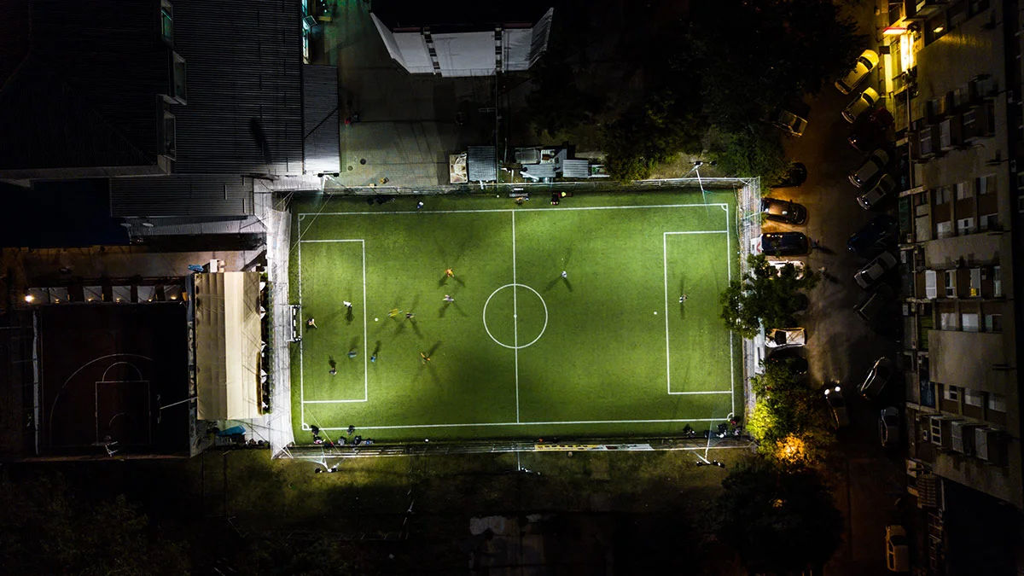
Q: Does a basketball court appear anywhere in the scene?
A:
Yes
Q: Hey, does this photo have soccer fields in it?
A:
Yes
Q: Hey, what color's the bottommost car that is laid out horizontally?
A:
black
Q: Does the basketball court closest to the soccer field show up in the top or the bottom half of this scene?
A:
bottom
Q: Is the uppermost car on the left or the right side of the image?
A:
right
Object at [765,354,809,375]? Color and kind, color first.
black car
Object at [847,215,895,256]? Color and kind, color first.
black car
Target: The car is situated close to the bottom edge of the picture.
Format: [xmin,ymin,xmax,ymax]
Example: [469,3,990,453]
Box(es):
[884,524,910,574]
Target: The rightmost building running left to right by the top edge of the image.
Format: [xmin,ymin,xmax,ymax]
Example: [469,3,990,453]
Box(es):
[371,0,553,76]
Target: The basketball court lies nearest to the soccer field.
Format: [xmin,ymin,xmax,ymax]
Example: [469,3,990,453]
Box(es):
[39,306,184,455]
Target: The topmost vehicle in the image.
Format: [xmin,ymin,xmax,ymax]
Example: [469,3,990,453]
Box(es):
[836,52,876,92]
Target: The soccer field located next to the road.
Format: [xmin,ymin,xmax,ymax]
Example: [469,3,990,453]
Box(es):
[292,191,742,445]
